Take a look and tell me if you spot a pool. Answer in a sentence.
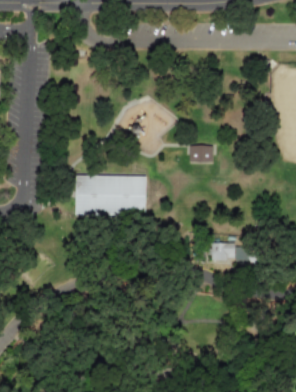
No, there's no pool here.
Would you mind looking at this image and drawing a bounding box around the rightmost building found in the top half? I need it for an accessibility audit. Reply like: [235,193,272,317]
[186,145,216,165]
